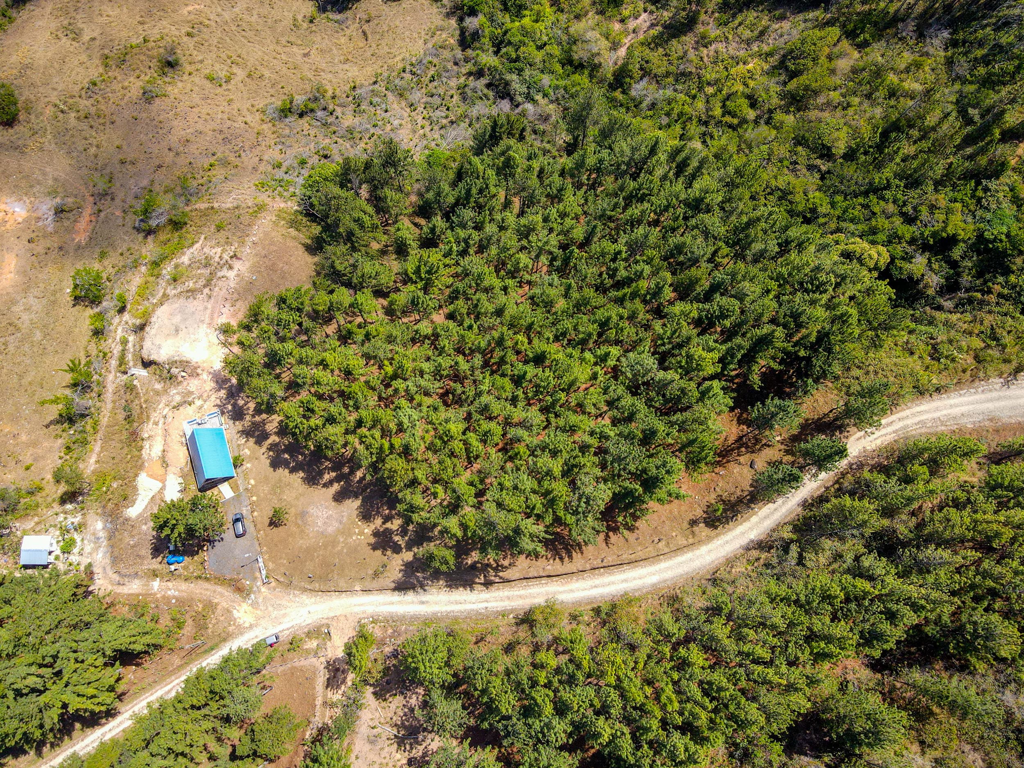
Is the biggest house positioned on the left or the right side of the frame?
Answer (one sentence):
The biggest house sits on the left side.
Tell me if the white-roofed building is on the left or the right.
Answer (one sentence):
The white-roofed building is on the left side of the image.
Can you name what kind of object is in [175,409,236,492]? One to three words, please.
house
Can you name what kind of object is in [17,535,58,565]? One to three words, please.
building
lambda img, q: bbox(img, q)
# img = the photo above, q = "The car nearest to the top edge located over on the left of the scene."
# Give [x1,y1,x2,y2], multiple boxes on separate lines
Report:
[233,512,248,539]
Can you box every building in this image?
[17,535,58,565]
[175,409,236,492]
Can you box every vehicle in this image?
[259,632,283,648]
[233,512,248,539]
